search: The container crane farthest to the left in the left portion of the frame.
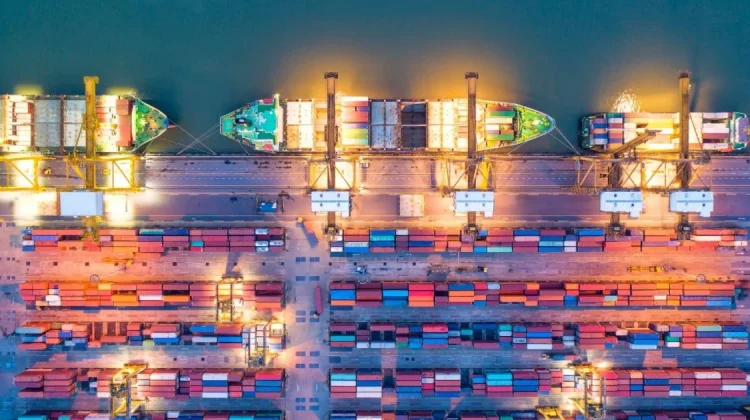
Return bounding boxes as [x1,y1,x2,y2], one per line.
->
[0,126,77,213]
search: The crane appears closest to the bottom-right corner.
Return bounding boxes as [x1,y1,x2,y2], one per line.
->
[568,362,611,420]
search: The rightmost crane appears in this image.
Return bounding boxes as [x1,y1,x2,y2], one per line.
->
[620,73,715,240]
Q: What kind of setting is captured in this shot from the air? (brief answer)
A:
port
